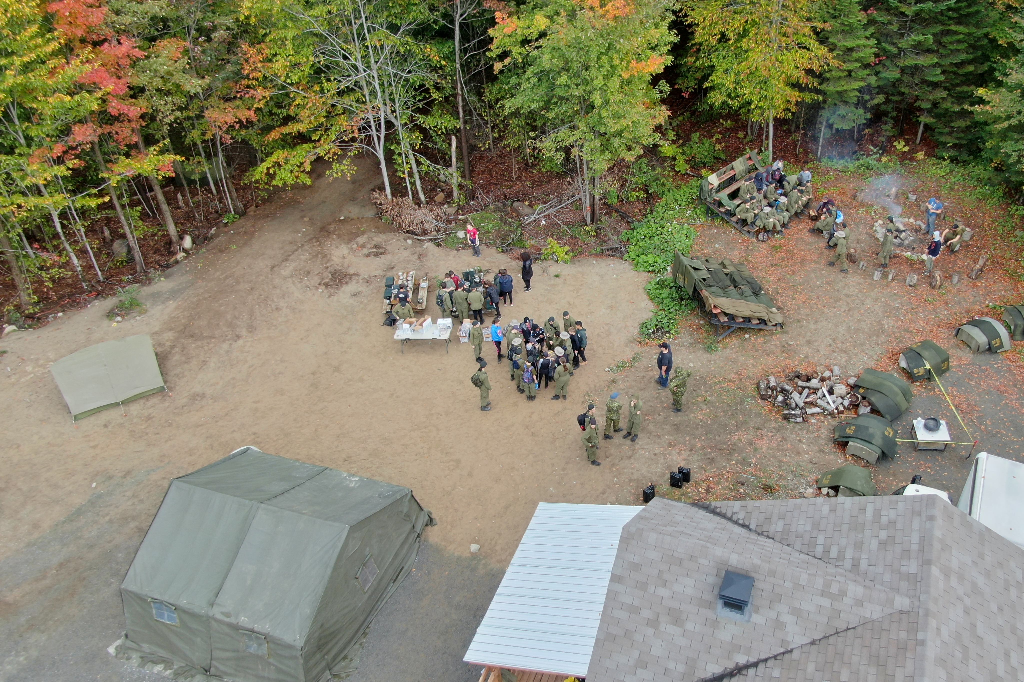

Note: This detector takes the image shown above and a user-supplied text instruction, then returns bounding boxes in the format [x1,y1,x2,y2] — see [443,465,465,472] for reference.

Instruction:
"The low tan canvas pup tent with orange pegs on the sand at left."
[53,334,172,424]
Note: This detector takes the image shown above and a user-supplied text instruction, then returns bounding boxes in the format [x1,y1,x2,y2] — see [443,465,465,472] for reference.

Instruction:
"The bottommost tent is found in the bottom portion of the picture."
[120,439,448,682]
